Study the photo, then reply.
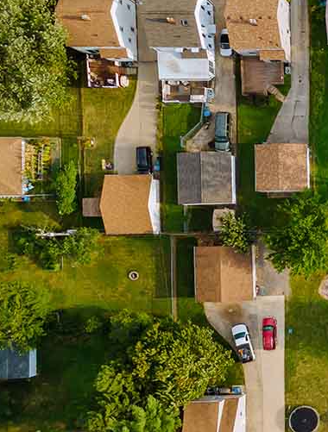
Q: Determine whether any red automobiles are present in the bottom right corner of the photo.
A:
Yes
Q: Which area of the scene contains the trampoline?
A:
bottom right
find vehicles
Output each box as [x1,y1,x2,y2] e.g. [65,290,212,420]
[218,27,234,58]
[232,324,255,363]
[260,316,277,350]
[135,146,154,174]
[213,113,231,151]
